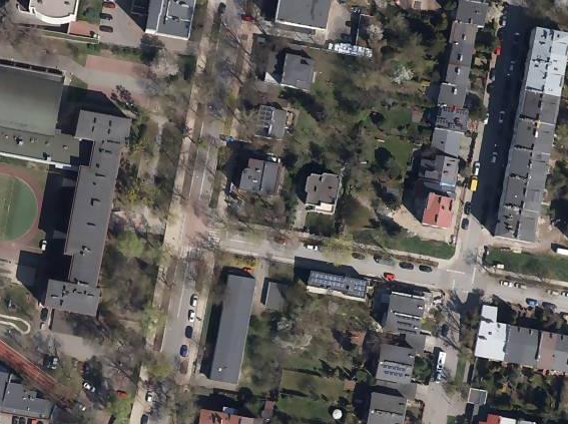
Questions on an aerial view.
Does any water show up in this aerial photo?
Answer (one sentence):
No, there's no water in this view.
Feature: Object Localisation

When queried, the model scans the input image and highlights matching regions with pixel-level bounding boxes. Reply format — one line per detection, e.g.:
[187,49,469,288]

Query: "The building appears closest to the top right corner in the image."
[527,28,568,67]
